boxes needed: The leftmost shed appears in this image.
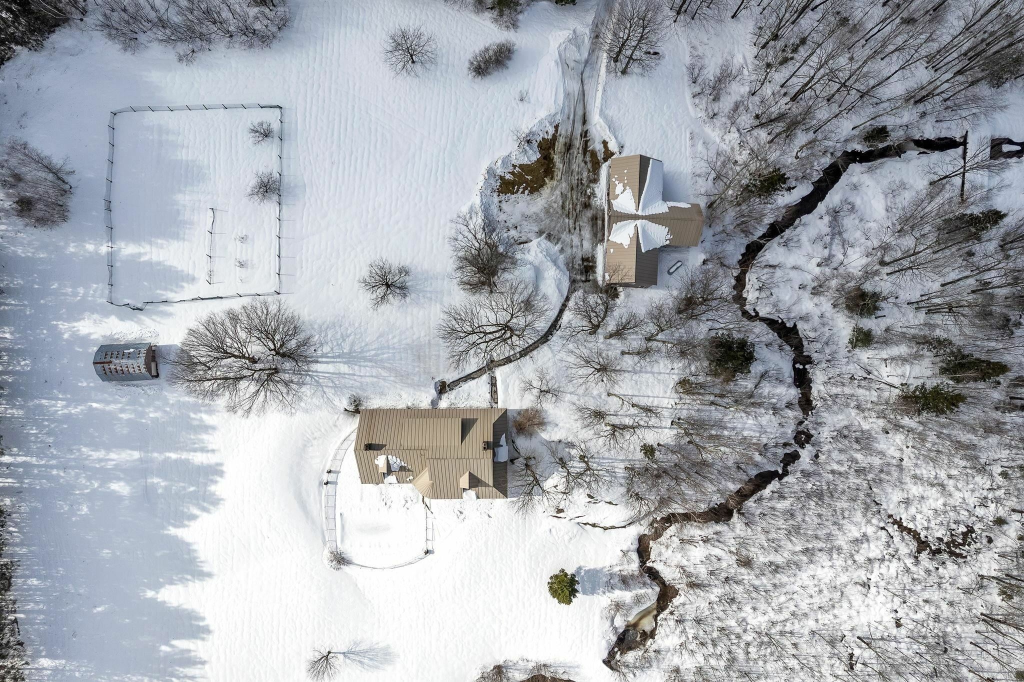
[92,342,158,381]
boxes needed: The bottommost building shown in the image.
[354,409,508,499]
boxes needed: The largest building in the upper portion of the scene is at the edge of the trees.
[605,154,705,285]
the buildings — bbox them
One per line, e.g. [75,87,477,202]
[605,154,705,285]
[92,342,158,381]
[354,409,508,499]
